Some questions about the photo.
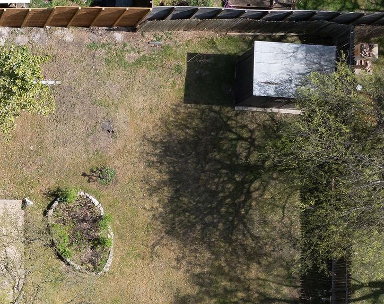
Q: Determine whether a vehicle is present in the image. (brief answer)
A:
No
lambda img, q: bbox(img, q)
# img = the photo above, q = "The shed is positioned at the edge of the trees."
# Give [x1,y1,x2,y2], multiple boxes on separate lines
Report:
[229,41,335,114]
